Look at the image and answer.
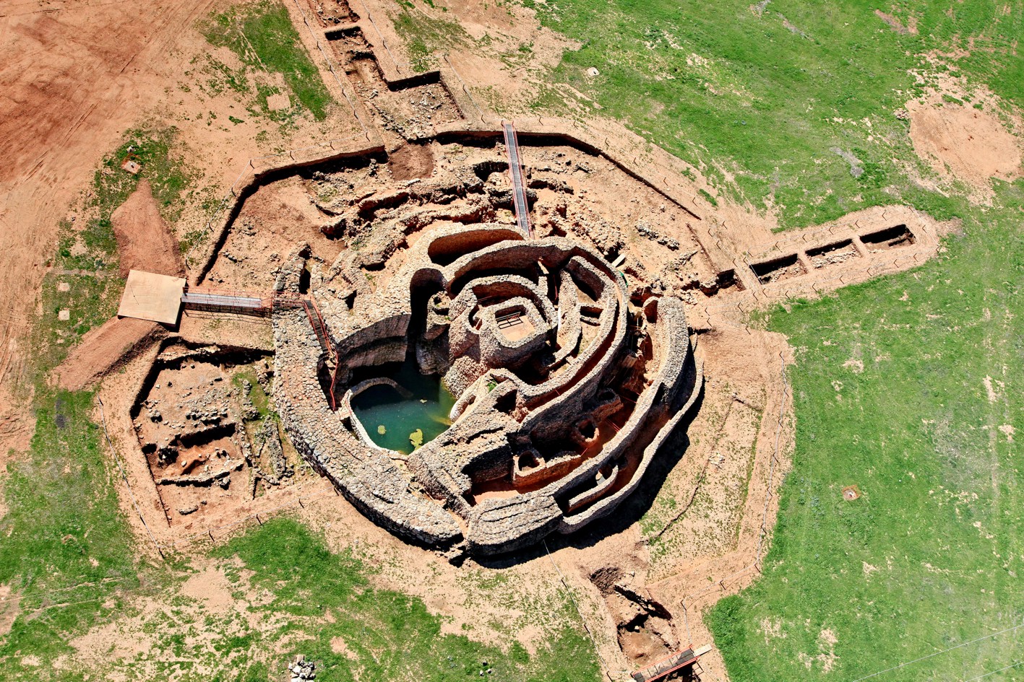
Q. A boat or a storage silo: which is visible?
storage silo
